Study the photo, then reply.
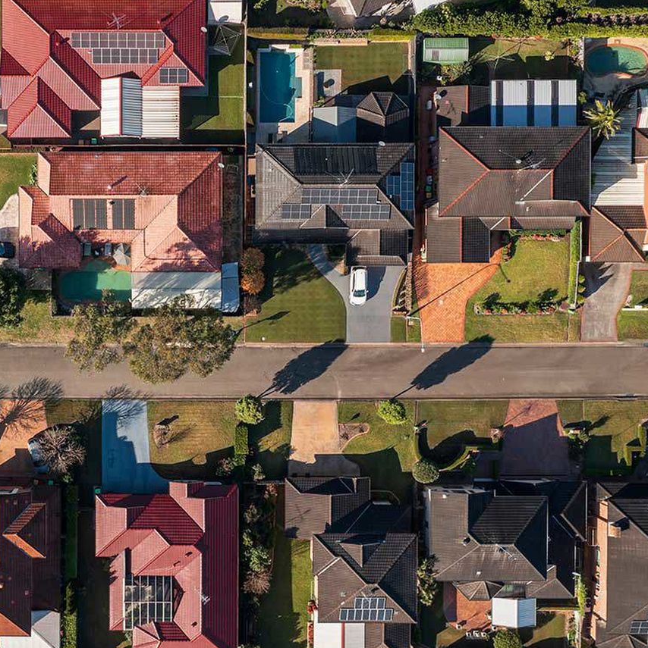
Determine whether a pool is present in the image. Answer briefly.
Yes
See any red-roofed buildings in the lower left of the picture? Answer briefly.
Yes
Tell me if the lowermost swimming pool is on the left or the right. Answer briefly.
left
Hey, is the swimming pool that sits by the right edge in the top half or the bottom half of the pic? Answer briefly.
top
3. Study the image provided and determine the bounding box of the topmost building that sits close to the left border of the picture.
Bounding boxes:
[0,0,207,140]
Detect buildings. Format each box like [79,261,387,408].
[18,150,223,309]
[421,38,469,66]
[208,0,243,26]
[252,143,416,267]
[423,79,590,263]
[95,481,238,648]
[591,482,648,648]
[0,0,207,140]
[0,487,62,648]
[283,477,418,648]
[424,477,586,628]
